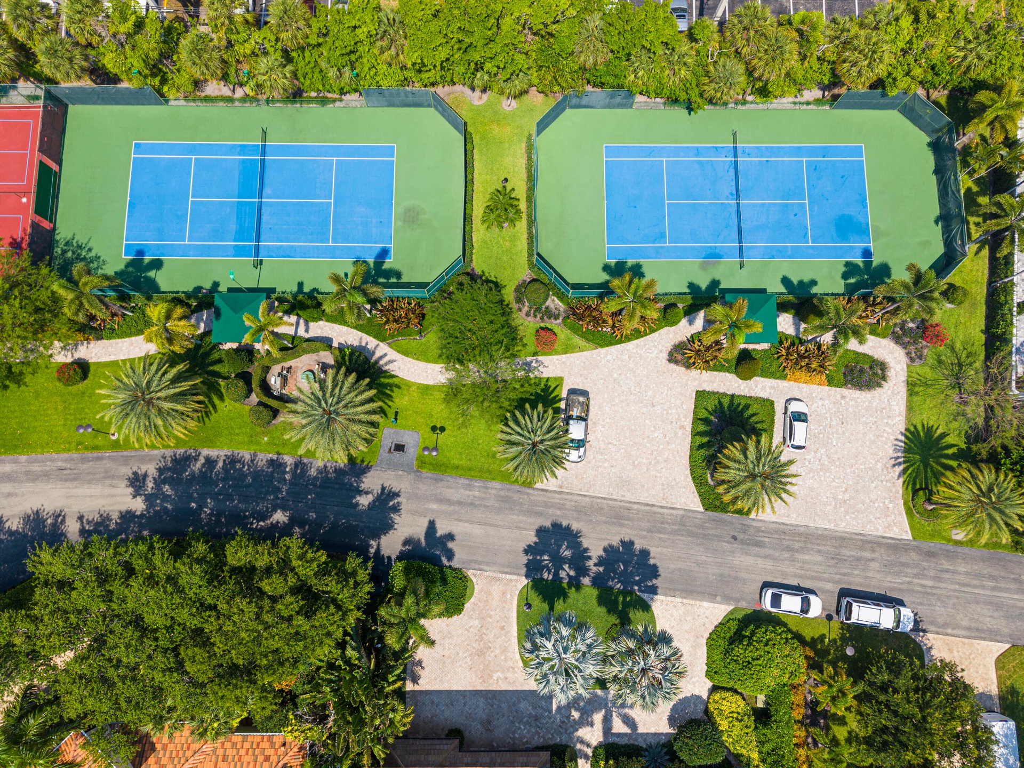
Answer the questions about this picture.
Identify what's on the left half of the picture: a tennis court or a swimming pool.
tennis court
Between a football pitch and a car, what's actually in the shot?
car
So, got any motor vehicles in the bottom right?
Yes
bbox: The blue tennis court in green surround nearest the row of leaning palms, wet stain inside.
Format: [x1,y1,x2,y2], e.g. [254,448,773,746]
[535,108,945,300]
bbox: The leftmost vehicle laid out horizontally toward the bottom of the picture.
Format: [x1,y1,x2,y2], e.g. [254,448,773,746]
[761,588,820,619]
